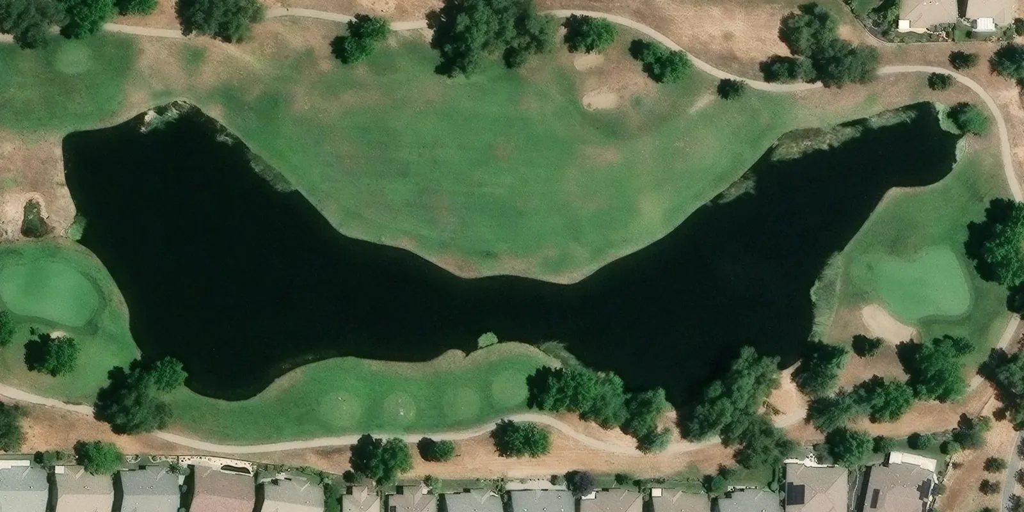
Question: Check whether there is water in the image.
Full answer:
Yes, there is water in the image.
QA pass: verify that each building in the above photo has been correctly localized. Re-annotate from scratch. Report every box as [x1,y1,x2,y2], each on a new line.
[857,460,932,512]
[898,0,958,29]
[510,489,577,512]
[580,489,643,512]
[121,466,181,512]
[786,466,848,512]
[966,0,1018,26]
[445,488,505,512]
[190,467,255,512]
[342,486,380,512]
[0,466,49,512]
[56,466,113,512]
[260,475,324,512]
[651,489,712,512]
[389,486,437,512]
[718,490,785,512]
